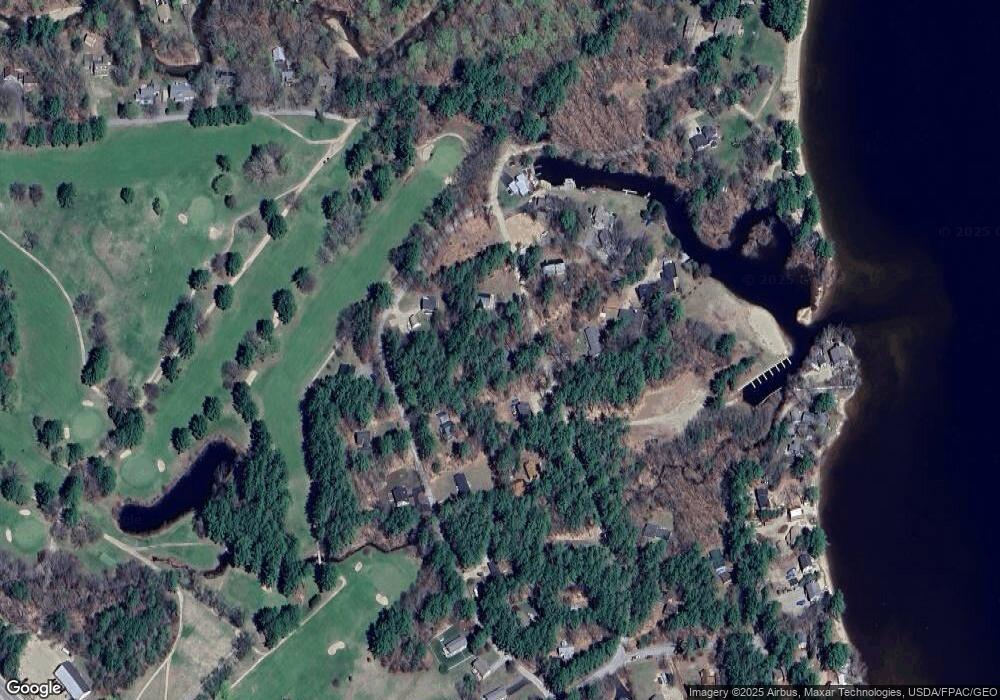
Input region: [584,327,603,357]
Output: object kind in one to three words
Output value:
house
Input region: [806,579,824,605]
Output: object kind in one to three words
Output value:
house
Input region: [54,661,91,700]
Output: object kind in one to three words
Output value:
barn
